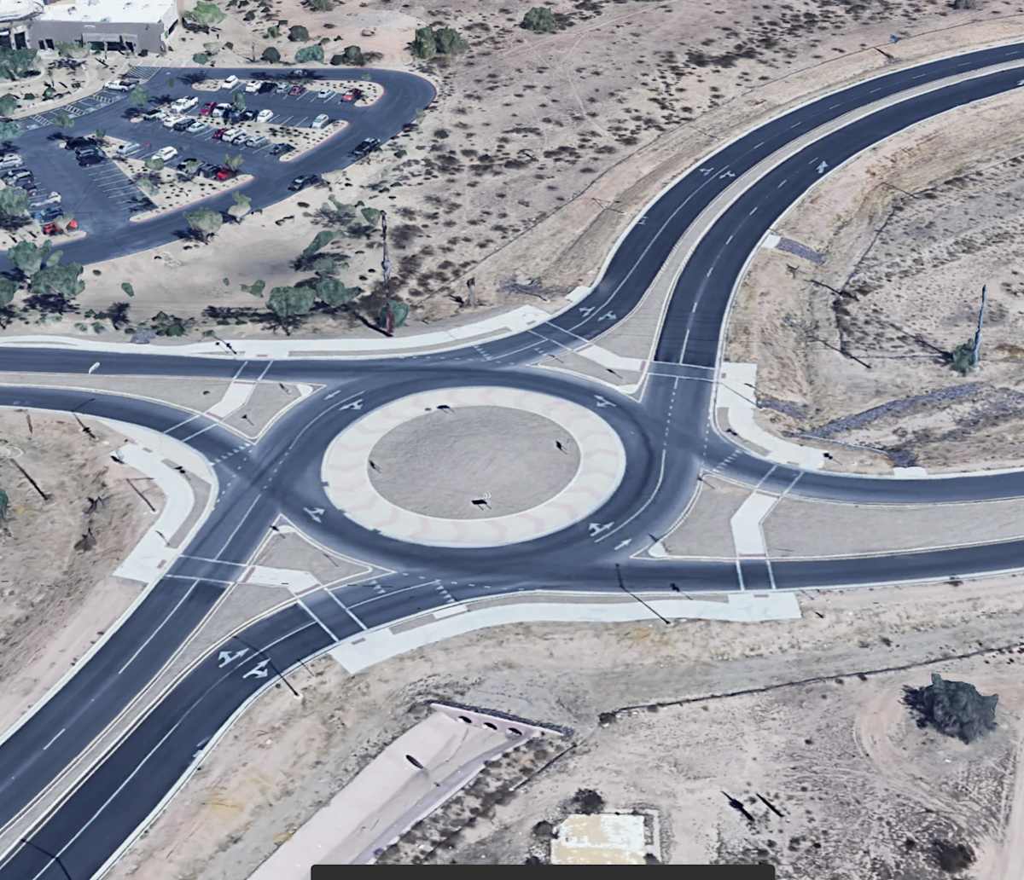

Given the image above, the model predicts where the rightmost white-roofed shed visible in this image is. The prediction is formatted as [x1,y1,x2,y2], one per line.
[550,815,649,880]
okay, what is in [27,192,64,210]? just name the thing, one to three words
vehicle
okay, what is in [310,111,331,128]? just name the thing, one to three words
car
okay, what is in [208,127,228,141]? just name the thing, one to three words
car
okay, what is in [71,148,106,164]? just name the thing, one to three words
vehicle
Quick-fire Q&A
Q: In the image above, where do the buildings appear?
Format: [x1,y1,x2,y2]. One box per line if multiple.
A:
[24,0,188,57]
[550,815,649,880]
